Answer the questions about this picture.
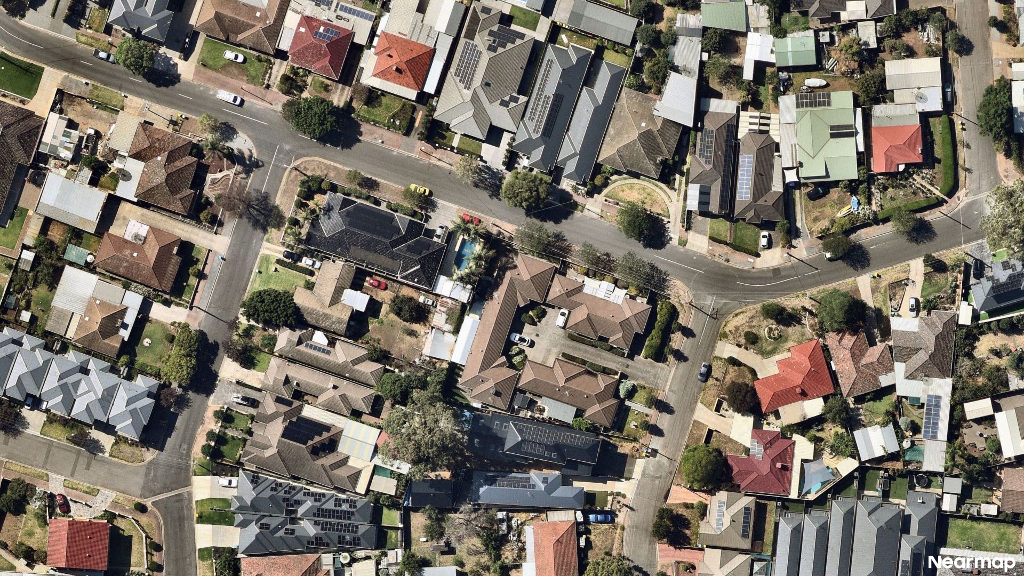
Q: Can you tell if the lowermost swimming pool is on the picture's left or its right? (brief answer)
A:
right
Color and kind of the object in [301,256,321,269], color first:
white vehicle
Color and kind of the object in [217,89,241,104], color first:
white vehicle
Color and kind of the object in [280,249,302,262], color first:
black vehicle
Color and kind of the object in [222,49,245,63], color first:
white car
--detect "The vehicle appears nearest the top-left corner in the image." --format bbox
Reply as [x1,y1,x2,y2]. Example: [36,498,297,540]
[92,49,115,63]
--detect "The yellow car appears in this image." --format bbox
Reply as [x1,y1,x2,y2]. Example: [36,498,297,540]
[408,183,430,197]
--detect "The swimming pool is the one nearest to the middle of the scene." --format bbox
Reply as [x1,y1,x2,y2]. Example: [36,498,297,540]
[454,237,477,271]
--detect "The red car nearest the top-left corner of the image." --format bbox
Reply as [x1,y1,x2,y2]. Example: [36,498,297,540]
[366,277,388,290]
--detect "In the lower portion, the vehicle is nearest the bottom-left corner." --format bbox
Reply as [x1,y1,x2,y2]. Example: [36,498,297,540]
[56,491,70,515]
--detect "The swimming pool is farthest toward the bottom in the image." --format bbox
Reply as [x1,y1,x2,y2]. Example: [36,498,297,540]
[799,466,836,497]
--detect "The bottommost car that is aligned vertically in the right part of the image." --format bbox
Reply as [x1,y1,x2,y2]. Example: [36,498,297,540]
[698,361,710,384]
